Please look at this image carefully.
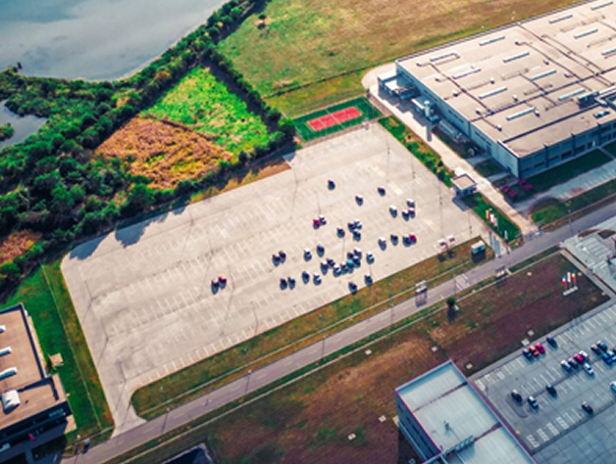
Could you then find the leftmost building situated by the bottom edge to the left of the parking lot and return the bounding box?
[0,309,74,447]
